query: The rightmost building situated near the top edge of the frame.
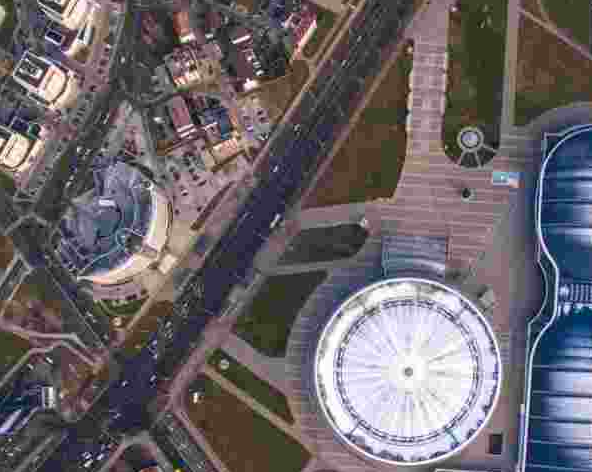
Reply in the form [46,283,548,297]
[284,10,316,52]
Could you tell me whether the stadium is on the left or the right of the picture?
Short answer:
right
